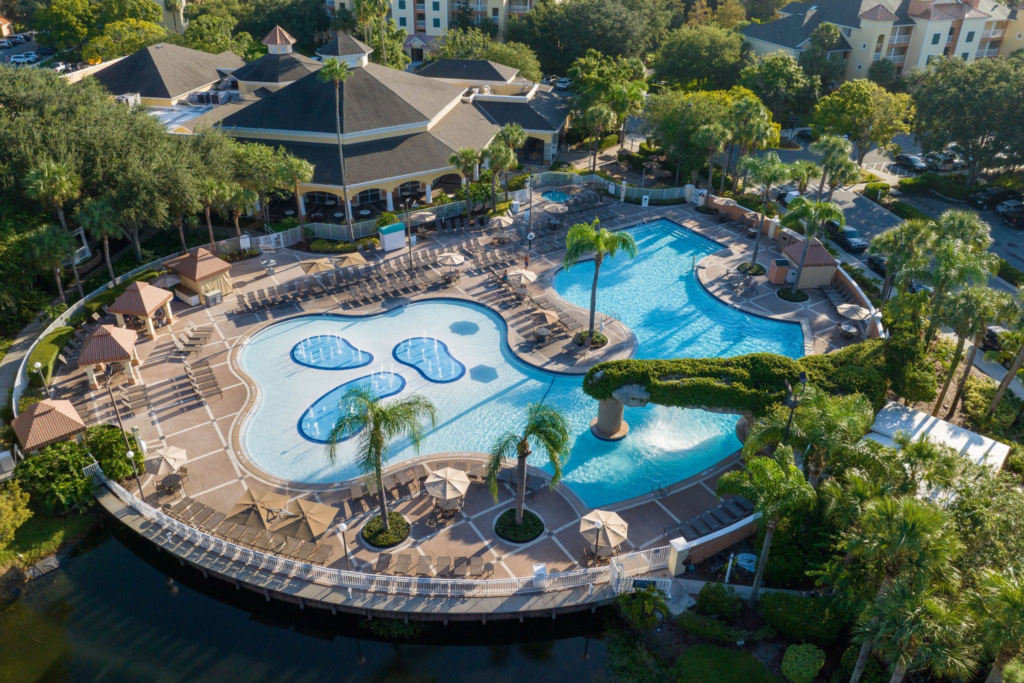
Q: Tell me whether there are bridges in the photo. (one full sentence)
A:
Yes, this view includes a bridge.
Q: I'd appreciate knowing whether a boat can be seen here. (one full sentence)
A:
No, I can see no boat in this picture.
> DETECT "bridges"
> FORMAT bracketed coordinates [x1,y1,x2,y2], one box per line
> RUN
[577,356,826,454]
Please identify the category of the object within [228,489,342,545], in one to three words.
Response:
umbrella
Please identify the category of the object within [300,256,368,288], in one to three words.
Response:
umbrella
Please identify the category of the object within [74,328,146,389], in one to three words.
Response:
gazebo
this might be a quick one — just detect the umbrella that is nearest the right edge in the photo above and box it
[837,309,873,329]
